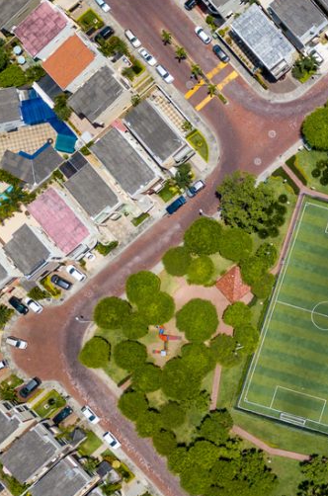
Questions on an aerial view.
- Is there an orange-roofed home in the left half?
Yes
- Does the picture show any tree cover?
Yes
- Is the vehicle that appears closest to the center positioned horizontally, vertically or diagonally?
diagonally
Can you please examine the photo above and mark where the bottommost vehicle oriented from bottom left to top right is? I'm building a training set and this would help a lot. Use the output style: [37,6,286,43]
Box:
[54,405,73,424]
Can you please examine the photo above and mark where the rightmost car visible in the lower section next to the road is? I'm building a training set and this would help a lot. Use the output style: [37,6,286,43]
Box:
[102,429,121,449]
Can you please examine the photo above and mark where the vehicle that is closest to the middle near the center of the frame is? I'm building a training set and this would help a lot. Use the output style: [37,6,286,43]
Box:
[165,194,187,214]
